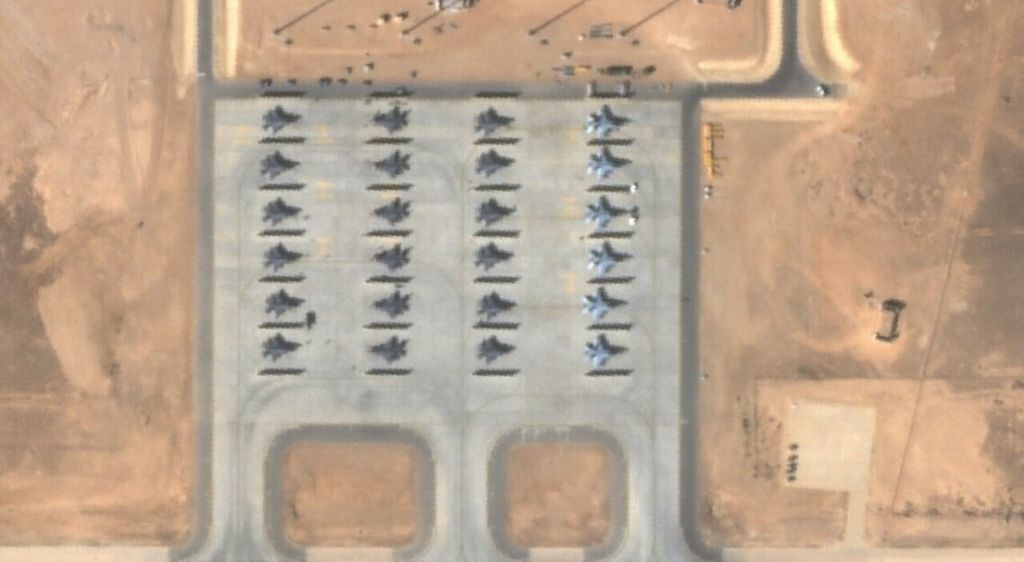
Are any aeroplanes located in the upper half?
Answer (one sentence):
Yes, I can see an aeroplane in the upper half.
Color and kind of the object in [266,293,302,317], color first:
gray airplane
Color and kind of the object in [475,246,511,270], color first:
gray airplane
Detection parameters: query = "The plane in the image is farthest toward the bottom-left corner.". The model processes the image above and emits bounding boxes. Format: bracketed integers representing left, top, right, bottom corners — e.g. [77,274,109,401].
[263,336,298,360]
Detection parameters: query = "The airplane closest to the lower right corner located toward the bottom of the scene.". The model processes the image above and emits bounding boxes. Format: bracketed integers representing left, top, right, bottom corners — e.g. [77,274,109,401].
[584,340,623,366]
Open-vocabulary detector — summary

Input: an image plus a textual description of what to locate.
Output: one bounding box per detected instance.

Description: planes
[370,109,405,132]
[584,340,623,366]
[371,247,406,271]
[587,247,627,273]
[585,201,623,227]
[582,292,622,318]
[478,339,513,363]
[263,109,298,133]
[264,247,300,270]
[370,293,406,317]
[586,151,625,177]
[476,153,512,177]
[585,110,625,136]
[475,246,511,270]
[370,202,406,225]
[478,294,513,318]
[266,293,302,317]
[368,338,404,361]
[475,201,510,225]
[261,154,296,178]
[475,110,510,134]
[263,201,299,225]
[371,154,406,178]
[263,336,298,360]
